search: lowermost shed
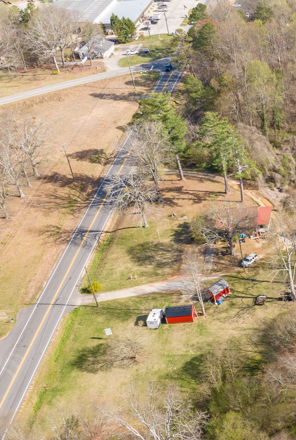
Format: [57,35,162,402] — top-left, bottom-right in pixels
[165,303,204,323]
